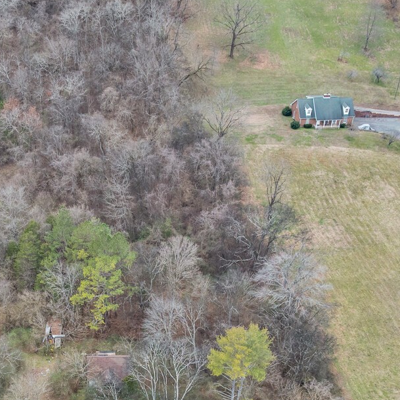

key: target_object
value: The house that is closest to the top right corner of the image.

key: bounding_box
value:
[290,91,356,130]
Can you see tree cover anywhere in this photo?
Yes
